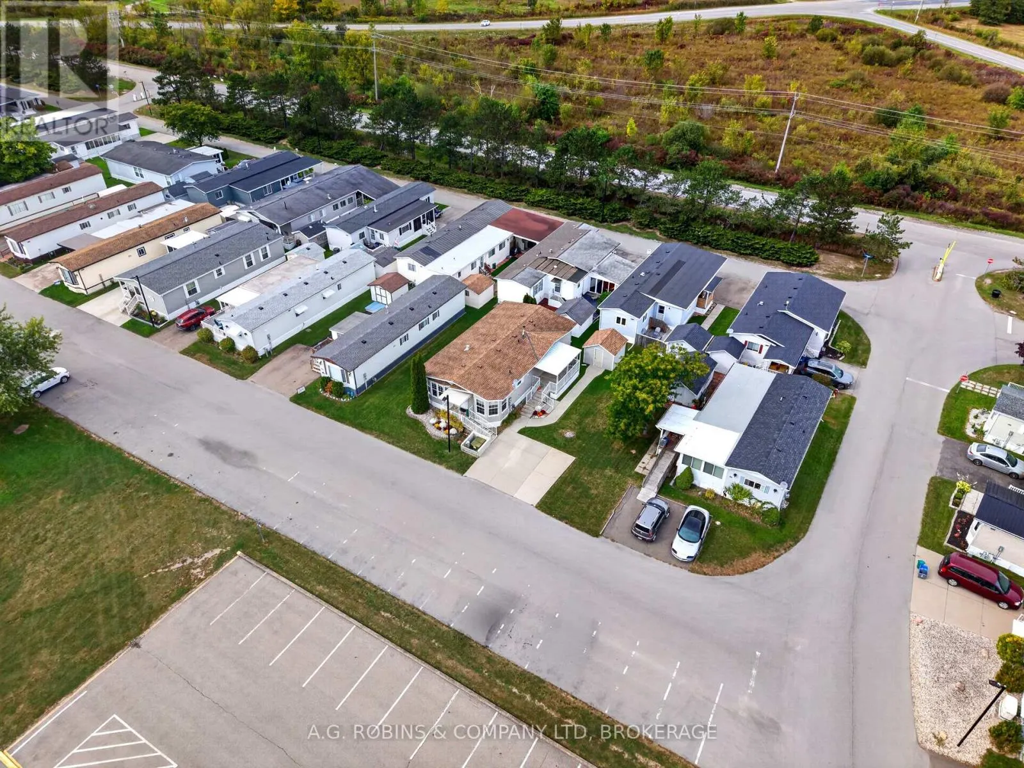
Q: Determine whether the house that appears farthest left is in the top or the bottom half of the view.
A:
top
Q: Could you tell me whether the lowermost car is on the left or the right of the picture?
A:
right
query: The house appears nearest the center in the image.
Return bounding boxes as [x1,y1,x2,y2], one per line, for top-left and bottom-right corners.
[427,303,583,443]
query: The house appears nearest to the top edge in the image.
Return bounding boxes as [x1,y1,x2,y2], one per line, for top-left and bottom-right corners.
[0,83,38,122]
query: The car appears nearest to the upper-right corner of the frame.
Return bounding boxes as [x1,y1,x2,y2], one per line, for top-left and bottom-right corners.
[801,353,856,388]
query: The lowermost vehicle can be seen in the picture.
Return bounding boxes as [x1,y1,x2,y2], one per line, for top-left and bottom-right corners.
[941,552,1024,612]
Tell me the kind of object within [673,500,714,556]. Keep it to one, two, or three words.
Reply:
car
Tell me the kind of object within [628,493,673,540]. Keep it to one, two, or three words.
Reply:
car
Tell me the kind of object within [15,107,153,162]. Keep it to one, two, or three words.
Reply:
house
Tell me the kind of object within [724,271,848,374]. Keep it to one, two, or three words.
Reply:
house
